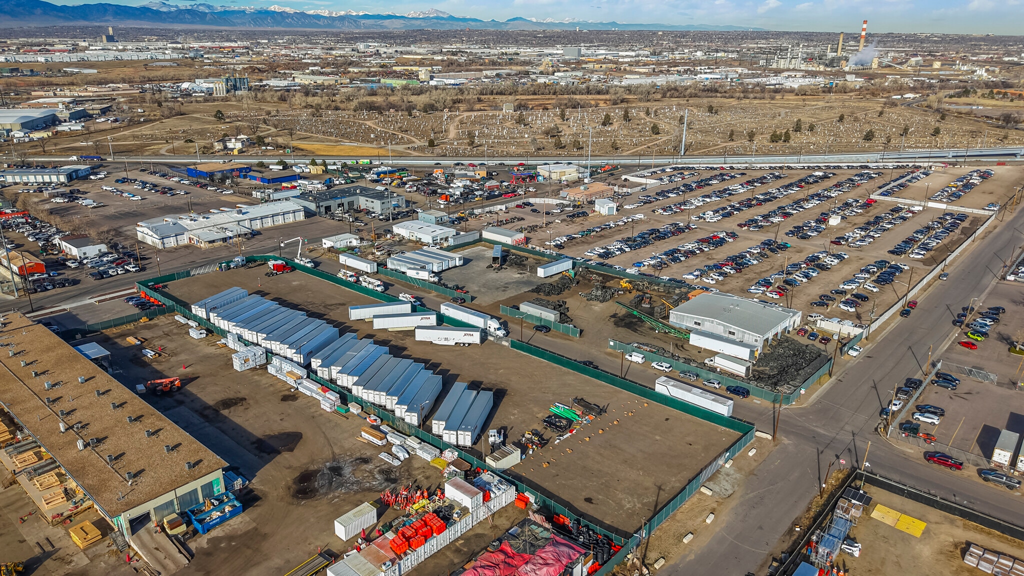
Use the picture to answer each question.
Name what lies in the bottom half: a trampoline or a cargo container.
cargo container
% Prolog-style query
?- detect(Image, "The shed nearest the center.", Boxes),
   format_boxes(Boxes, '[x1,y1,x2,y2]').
[484,226,526,244]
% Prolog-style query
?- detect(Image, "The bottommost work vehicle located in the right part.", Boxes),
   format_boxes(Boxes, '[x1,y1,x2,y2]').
[838,535,862,554]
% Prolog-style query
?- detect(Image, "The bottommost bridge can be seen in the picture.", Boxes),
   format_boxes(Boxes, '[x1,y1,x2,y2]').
[862,140,1024,160]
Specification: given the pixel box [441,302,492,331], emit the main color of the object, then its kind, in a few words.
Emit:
white trailer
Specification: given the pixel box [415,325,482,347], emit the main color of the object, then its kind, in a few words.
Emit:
white trailer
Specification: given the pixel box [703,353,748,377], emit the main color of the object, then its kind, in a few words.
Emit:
white truck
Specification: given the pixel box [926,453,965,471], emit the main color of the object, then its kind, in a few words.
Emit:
red vehicle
